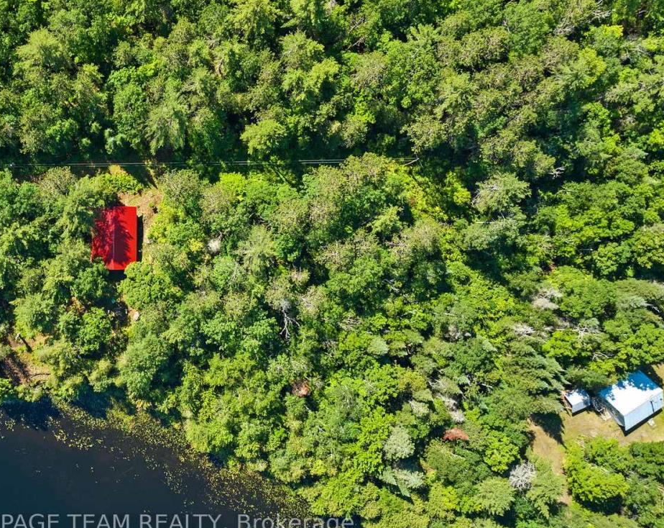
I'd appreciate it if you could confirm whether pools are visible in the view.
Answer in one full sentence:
No, the scene contains no pool.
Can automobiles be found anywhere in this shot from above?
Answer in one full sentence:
No, no automobile can be seen from above.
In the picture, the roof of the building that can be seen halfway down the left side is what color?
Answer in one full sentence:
The color of the roof on the building that can be seen halfway down the left side is red.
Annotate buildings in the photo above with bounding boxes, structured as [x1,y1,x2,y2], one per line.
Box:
[91,206,137,271]
[594,373,664,433]
[562,388,591,415]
